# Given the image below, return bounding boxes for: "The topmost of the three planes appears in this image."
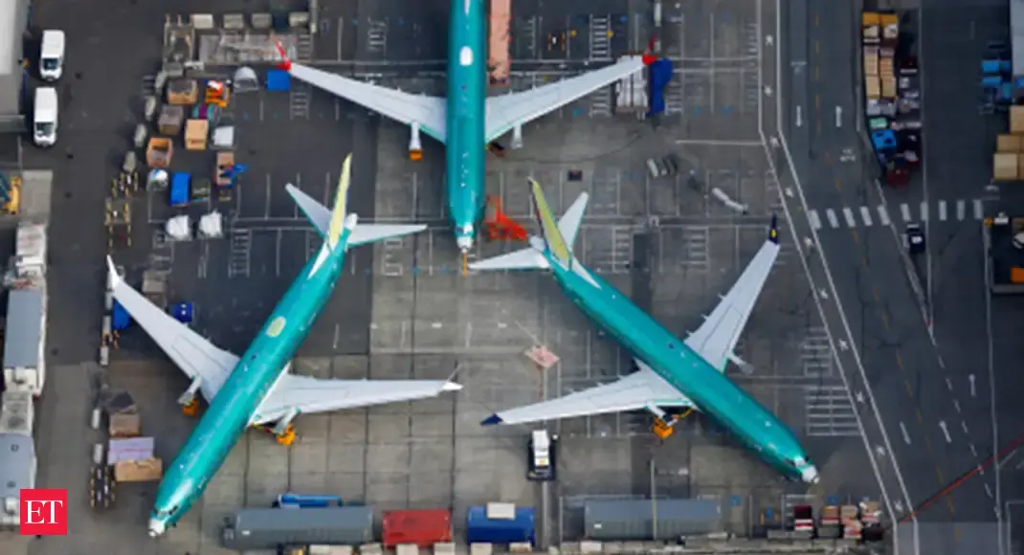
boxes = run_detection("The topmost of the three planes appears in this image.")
[275,0,658,255]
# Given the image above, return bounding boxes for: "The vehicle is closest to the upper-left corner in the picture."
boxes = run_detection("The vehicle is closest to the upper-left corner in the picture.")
[37,32,64,80]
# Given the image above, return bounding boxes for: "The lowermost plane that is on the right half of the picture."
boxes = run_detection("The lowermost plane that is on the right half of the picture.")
[470,178,821,484]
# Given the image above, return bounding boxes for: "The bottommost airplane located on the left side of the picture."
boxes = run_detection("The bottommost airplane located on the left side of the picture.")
[105,155,463,537]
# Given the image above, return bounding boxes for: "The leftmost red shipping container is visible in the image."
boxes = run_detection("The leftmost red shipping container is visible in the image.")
[381,508,454,548]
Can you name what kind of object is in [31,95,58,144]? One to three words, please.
vehicle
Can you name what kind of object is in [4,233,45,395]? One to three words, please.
truck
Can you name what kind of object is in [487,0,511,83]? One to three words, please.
trailer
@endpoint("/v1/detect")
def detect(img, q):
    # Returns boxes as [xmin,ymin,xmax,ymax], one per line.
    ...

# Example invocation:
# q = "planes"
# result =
[470,178,821,484]
[105,155,463,537]
[275,0,658,255]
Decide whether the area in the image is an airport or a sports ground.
airport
